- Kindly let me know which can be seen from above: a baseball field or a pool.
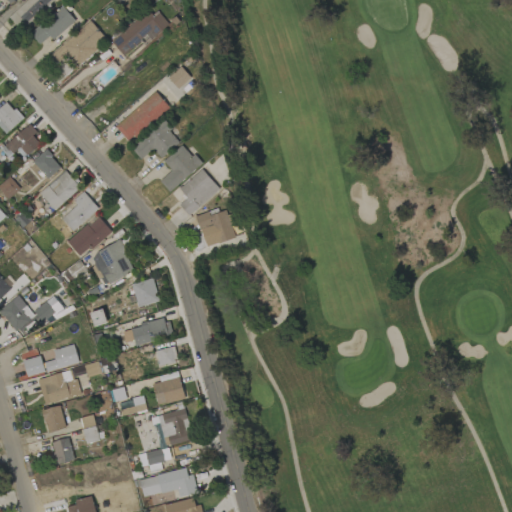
pool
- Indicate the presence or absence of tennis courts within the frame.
No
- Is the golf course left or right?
right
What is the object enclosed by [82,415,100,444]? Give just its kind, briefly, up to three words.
shed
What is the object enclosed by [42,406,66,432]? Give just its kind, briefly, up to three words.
house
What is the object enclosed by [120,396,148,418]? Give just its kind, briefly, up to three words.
shed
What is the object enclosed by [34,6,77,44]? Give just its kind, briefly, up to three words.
house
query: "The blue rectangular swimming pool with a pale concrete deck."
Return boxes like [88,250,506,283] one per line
[92,62,121,88]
